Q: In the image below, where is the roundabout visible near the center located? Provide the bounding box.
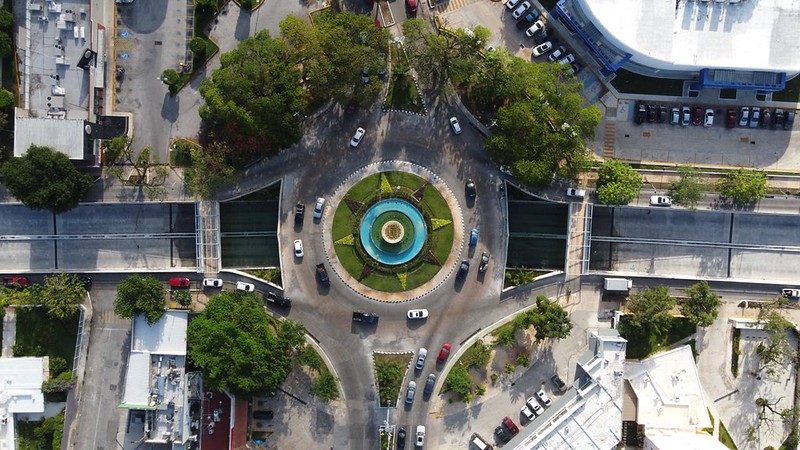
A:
[321,159,465,304]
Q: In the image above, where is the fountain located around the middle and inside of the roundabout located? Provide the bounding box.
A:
[359,198,427,266]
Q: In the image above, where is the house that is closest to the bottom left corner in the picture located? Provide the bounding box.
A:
[0,354,69,450]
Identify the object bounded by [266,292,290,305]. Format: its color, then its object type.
black vehicle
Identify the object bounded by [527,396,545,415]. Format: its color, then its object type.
white car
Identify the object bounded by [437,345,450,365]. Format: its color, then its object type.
red vehicle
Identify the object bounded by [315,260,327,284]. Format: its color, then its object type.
black vehicle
